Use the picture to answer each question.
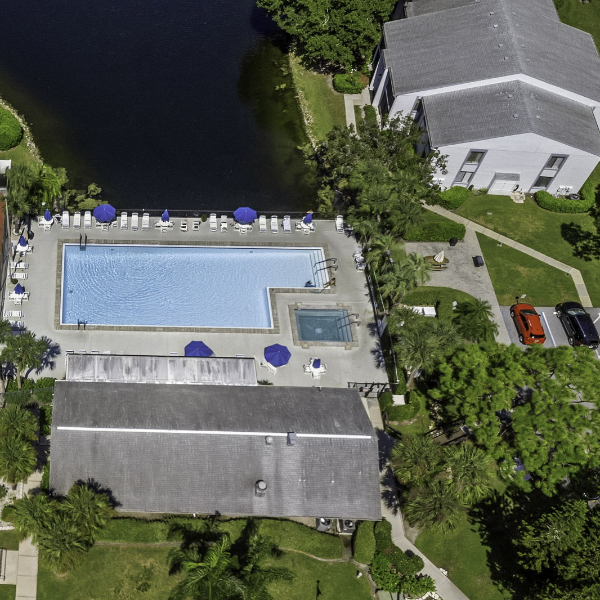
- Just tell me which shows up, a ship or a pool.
pool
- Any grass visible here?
Yes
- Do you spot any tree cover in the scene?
Yes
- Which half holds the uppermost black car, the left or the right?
right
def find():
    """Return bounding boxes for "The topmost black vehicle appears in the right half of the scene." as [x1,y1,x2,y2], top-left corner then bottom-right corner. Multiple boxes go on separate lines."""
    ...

[558,305,600,350]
